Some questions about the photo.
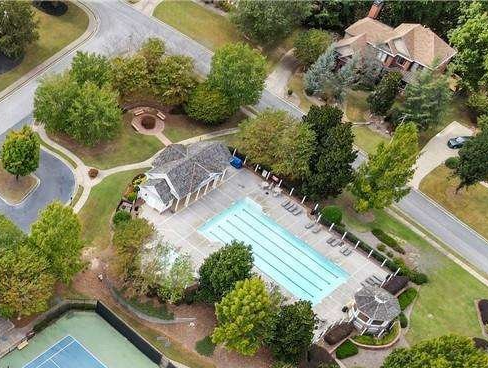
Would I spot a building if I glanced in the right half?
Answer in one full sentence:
Yes, looking in the right half, one can make out a building.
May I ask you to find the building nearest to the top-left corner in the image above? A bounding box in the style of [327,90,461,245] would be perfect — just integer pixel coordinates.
[136,135,238,213]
